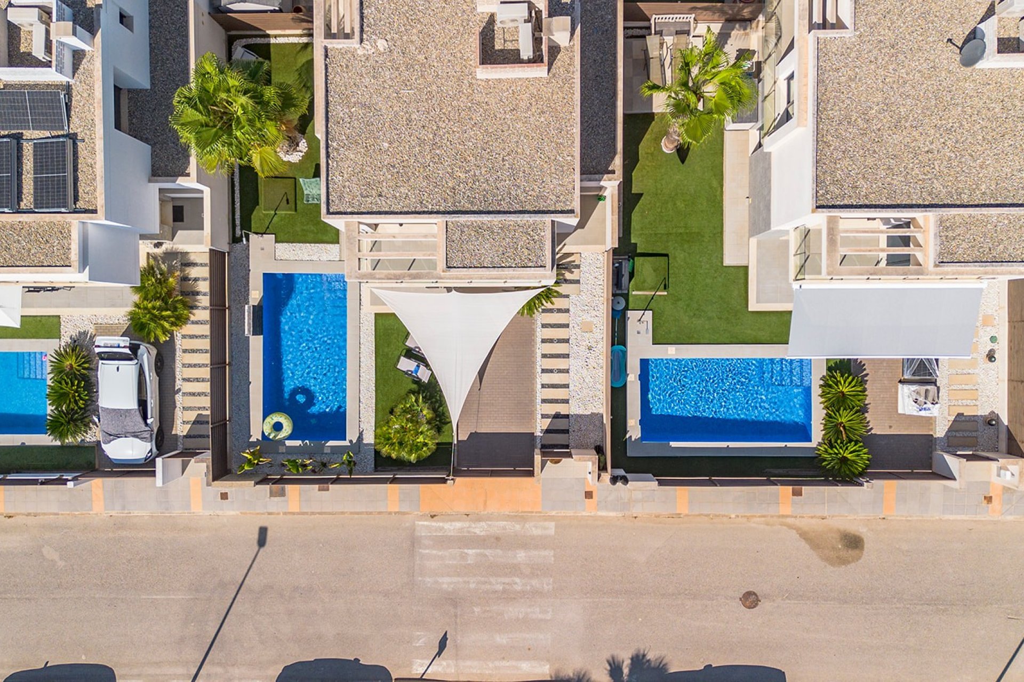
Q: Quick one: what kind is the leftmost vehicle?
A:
automobile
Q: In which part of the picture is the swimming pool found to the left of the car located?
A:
left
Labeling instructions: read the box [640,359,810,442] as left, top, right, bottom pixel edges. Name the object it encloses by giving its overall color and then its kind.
blue swimming pool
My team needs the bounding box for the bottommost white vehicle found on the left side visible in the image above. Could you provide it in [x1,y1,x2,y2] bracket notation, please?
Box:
[91,327,167,464]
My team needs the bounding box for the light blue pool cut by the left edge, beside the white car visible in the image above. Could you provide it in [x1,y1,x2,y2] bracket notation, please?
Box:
[0,352,47,434]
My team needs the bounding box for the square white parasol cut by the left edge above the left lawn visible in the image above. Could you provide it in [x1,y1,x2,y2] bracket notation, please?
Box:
[0,289,23,327]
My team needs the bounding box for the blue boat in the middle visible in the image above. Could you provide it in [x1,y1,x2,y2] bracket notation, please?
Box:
[612,346,627,387]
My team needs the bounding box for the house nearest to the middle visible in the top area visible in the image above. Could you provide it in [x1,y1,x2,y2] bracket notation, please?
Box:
[315,0,625,289]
